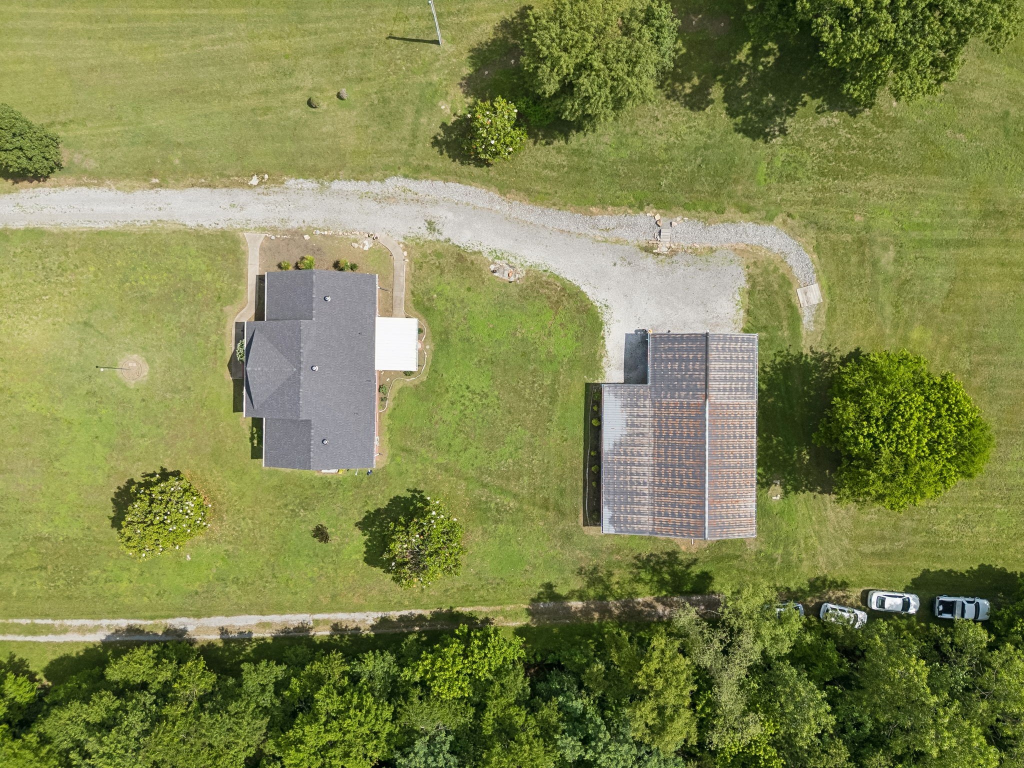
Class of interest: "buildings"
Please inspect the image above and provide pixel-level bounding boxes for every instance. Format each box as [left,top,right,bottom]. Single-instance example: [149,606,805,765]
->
[600,328,760,541]
[242,268,396,471]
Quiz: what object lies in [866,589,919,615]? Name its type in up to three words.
car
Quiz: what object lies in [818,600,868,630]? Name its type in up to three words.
car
